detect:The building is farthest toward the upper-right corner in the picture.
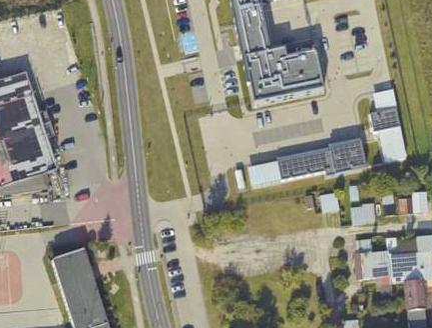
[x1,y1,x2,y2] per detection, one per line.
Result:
[372,88,396,110]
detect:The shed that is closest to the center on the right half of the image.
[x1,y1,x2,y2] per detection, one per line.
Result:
[249,161,281,189]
